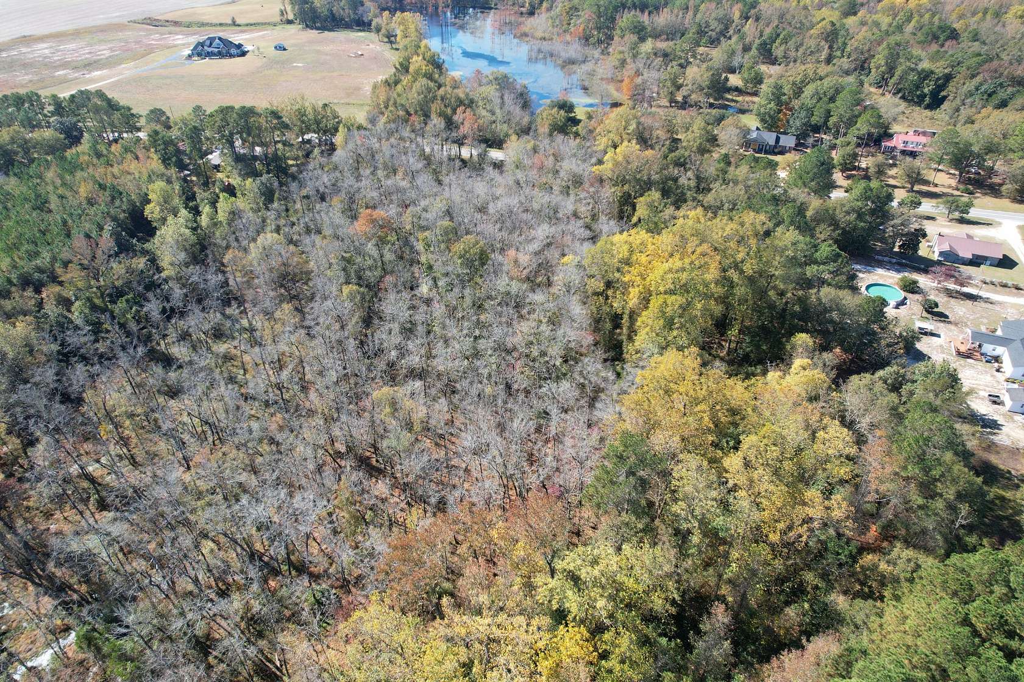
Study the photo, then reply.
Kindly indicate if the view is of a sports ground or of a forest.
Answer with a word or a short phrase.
forest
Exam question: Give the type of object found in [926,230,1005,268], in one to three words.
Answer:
house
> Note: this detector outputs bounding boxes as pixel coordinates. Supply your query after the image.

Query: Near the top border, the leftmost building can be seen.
[187,33,250,58]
